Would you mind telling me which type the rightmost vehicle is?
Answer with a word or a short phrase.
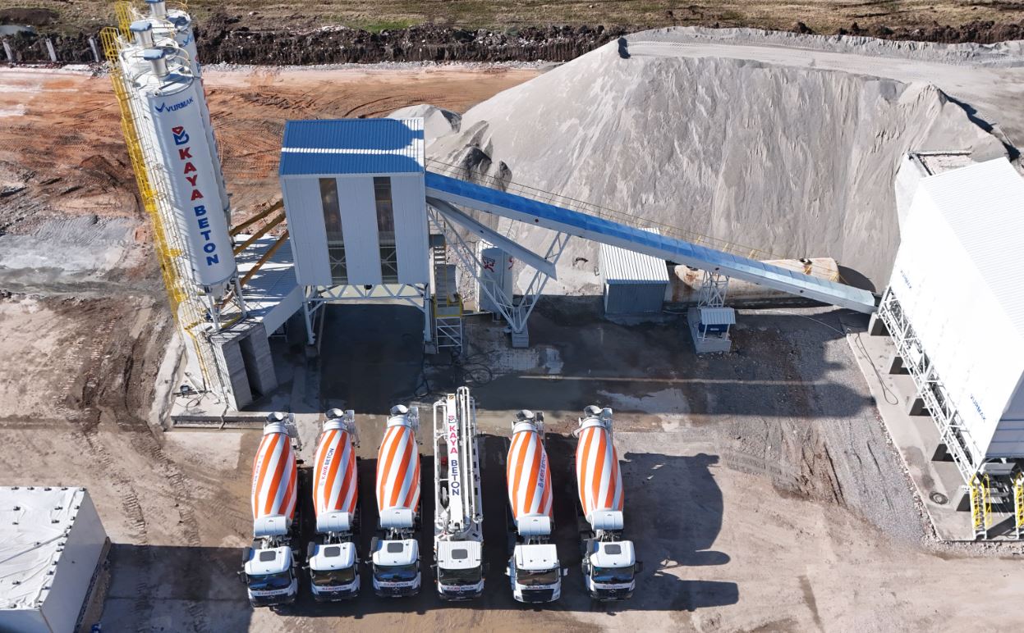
truck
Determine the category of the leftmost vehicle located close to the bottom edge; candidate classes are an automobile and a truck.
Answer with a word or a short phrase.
truck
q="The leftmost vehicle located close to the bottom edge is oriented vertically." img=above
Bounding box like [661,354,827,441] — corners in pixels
[231,416,306,605]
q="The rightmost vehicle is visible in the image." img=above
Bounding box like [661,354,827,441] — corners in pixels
[571,411,649,599]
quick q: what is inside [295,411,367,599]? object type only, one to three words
truck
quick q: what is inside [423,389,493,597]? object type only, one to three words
truck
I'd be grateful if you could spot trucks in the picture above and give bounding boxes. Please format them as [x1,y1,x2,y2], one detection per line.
[571,411,649,599]
[423,389,493,597]
[295,411,367,599]
[359,408,430,594]
[502,412,572,600]
[231,416,306,605]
